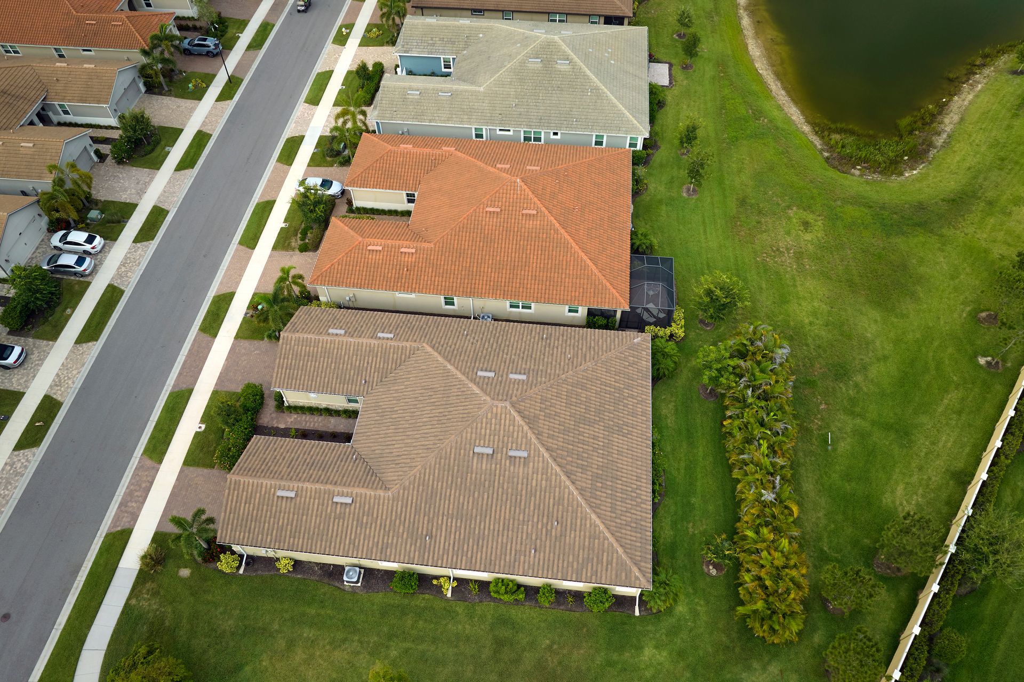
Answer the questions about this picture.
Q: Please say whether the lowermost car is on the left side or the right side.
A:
left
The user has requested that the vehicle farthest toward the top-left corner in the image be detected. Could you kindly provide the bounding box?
[178,34,227,59]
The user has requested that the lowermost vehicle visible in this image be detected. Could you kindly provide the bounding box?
[0,341,32,373]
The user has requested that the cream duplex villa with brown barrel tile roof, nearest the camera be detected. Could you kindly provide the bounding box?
[216,305,654,600]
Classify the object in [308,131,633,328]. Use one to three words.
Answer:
house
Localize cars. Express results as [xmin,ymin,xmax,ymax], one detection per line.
[47,230,111,256]
[178,34,227,59]
[38,251,102,280]
[0,341,32,373]
[292,175,349,201]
